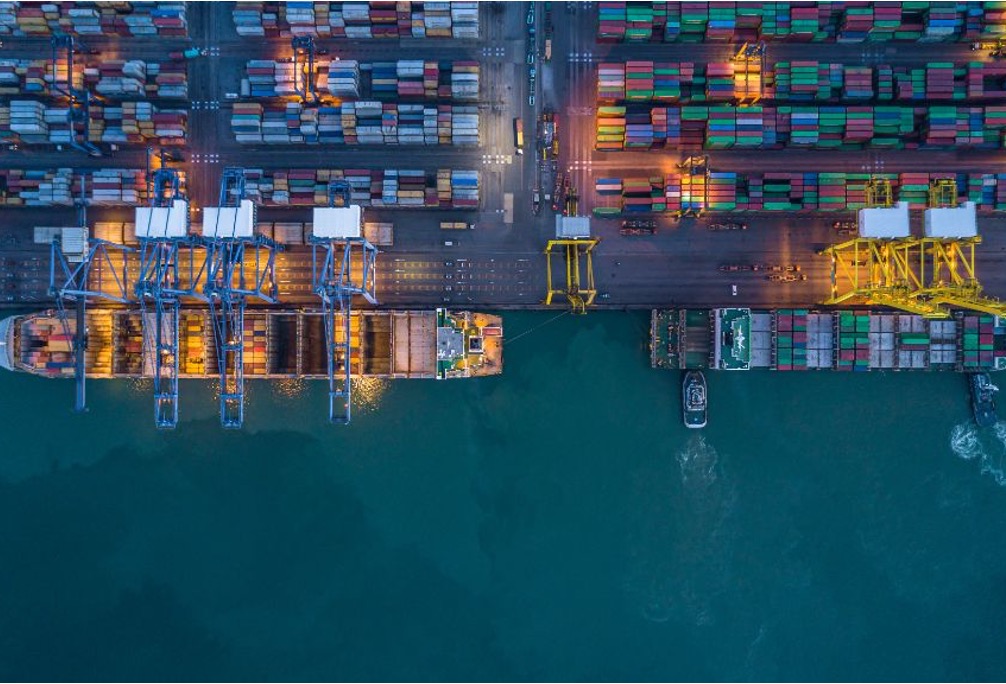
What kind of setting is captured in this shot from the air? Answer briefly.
port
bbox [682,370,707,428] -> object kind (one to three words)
boat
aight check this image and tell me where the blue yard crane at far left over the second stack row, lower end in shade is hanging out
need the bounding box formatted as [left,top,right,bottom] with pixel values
[55,39,98,104]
